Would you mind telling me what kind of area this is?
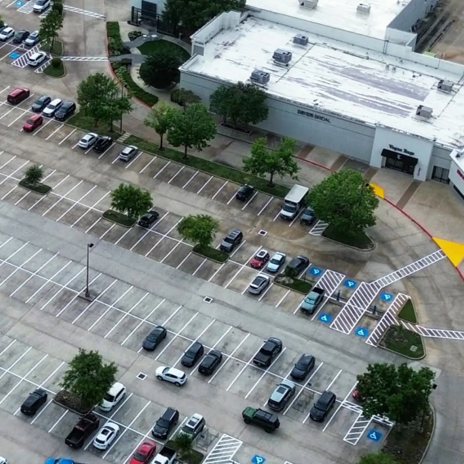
parking lot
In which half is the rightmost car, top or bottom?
bottom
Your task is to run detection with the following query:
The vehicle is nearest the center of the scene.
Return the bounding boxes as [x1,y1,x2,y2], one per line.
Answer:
[218,226,245,253]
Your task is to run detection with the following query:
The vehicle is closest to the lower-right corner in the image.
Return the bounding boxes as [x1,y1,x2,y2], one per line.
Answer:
[349,383,369,413]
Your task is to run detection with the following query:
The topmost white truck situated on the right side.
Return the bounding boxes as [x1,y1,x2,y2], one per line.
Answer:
[278,178,312,218]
